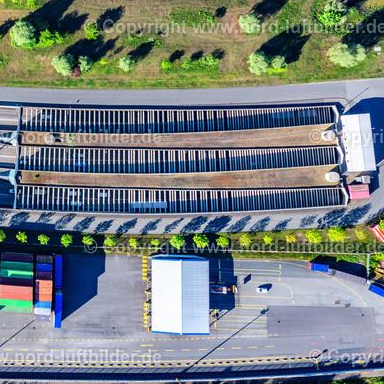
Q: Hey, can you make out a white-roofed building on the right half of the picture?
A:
Yes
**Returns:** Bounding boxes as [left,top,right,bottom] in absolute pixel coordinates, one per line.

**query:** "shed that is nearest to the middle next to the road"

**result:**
[150,247,209,335]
